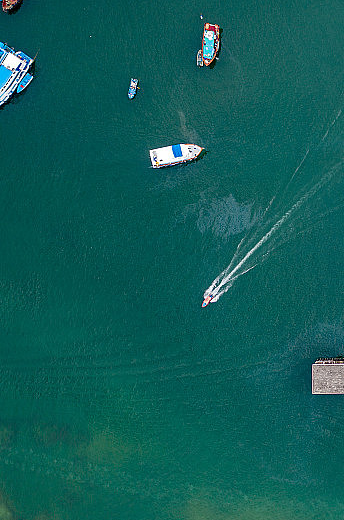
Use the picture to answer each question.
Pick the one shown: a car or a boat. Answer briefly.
boat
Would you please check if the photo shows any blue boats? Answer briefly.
Yes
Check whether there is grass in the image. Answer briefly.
No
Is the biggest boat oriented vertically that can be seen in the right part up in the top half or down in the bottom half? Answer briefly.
top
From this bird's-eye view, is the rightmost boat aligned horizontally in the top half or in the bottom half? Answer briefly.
top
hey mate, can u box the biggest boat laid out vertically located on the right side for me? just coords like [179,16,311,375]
[201,23,221,67]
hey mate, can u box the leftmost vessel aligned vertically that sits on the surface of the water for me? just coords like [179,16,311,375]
[0,39,32,112]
